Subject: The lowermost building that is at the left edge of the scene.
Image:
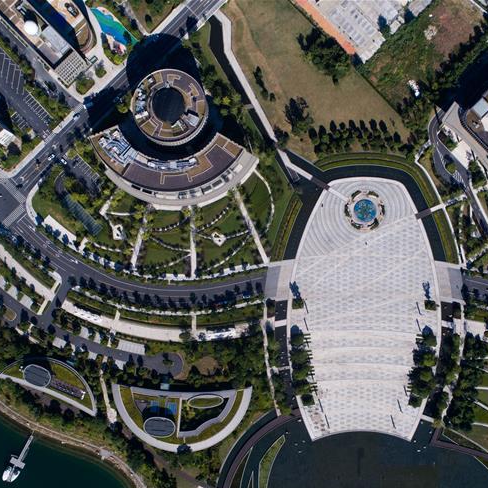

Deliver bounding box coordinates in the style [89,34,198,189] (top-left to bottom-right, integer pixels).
[0,356,99,416]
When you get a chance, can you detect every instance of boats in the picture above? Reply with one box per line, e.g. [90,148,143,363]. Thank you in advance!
[2,467,11,481]
[12,469,21,480]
